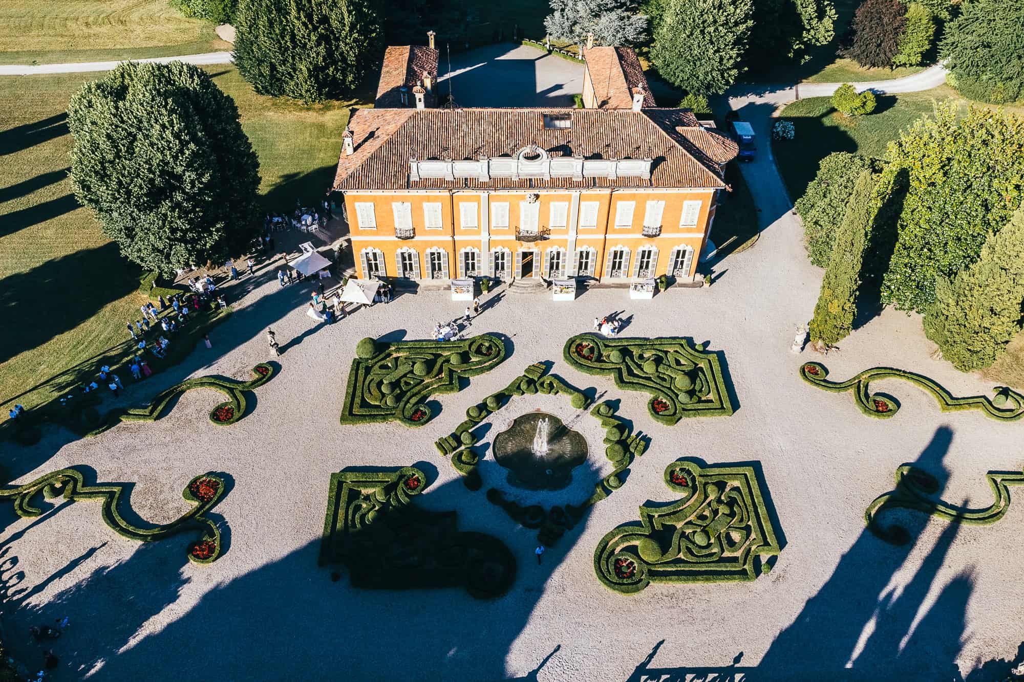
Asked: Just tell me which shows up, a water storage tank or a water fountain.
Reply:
water fountain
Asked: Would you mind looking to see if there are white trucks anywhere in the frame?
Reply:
No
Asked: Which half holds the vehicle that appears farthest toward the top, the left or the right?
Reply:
right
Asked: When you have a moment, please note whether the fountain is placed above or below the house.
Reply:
below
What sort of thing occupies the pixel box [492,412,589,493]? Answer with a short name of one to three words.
fountain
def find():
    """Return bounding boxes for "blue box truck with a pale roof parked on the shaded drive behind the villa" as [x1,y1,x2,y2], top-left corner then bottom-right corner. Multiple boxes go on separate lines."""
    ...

[730,122,758,162]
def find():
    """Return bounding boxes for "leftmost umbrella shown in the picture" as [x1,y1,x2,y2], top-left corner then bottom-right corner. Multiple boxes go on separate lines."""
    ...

[286,249,332,285]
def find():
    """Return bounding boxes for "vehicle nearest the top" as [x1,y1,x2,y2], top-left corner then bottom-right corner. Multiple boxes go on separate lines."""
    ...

[719,99,740,123]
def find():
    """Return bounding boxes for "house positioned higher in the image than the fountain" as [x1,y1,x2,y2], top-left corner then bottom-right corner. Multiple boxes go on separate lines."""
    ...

[328,17,740,296]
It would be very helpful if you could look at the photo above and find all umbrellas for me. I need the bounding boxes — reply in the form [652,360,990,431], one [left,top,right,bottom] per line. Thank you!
[339,278,383,314]
[286,249,332,285]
